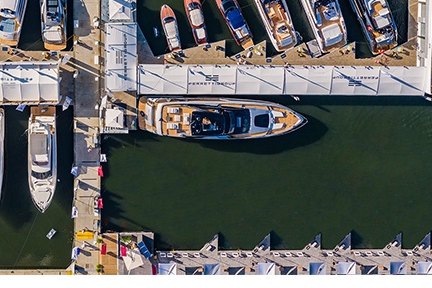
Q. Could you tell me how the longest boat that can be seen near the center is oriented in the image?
from side to side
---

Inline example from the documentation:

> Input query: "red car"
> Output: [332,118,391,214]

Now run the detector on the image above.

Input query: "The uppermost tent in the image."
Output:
[111,0,133,20]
